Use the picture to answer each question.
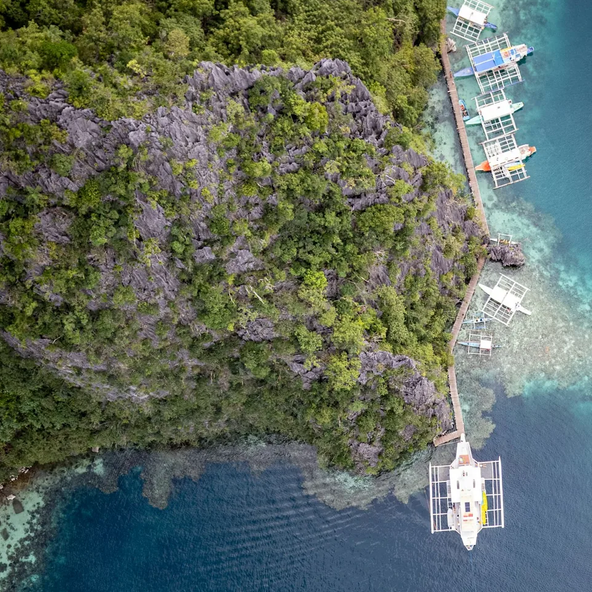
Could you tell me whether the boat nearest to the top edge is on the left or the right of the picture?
right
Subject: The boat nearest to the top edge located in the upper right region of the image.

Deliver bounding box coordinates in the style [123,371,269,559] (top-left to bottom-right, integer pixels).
[447,0,497,43]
